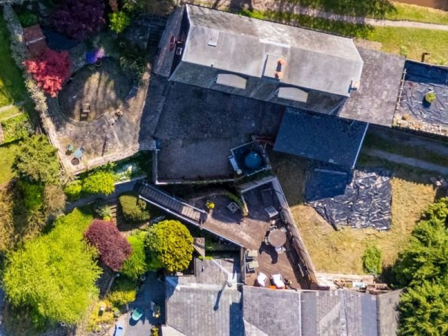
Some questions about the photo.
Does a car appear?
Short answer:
No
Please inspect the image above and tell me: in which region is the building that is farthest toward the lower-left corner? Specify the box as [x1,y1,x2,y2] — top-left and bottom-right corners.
[162,254,241,336]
